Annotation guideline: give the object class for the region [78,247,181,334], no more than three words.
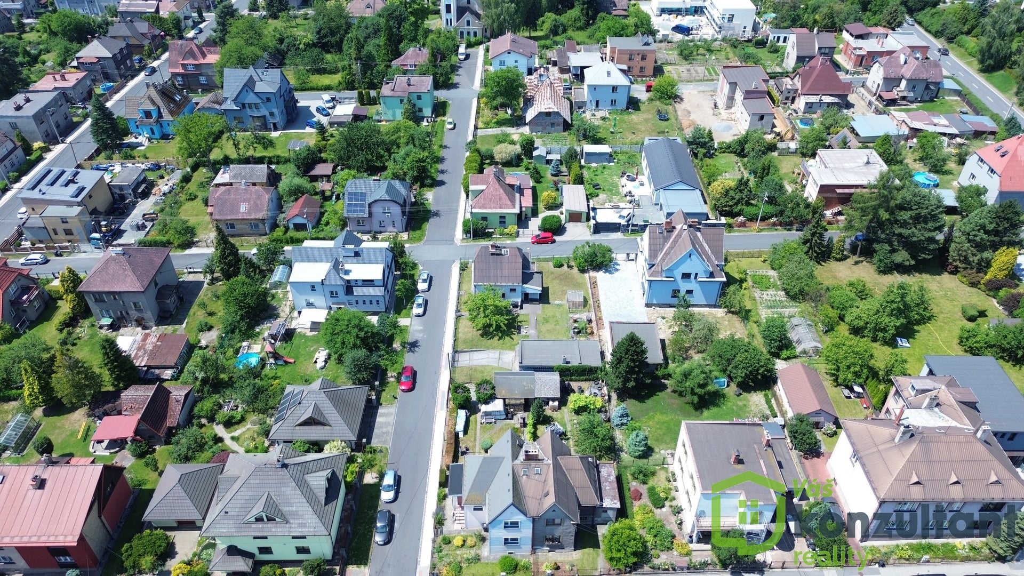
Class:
house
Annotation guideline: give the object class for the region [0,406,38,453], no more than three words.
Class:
greenhouse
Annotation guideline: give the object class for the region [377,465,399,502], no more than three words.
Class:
car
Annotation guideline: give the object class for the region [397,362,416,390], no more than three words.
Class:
car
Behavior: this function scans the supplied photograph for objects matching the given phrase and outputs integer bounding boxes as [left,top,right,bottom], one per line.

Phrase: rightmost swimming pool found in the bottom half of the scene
[234,355,262,377]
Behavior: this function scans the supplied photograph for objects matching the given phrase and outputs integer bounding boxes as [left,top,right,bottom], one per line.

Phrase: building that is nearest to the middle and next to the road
[474,243,543,307]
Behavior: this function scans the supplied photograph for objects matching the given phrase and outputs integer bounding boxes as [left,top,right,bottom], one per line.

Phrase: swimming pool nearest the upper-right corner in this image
[909,173,941,187]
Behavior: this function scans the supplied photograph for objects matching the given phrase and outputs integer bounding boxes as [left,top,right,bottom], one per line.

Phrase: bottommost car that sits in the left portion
[370,505,393,545]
